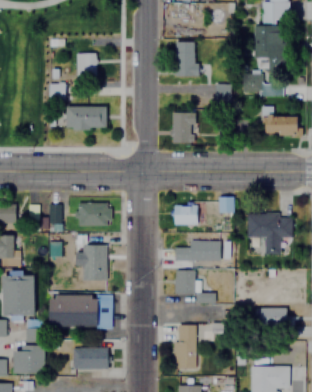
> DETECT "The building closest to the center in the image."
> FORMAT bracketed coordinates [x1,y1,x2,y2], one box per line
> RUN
[174,202,200,225]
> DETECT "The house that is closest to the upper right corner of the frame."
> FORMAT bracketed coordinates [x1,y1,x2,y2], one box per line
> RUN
[263,0,291,23]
